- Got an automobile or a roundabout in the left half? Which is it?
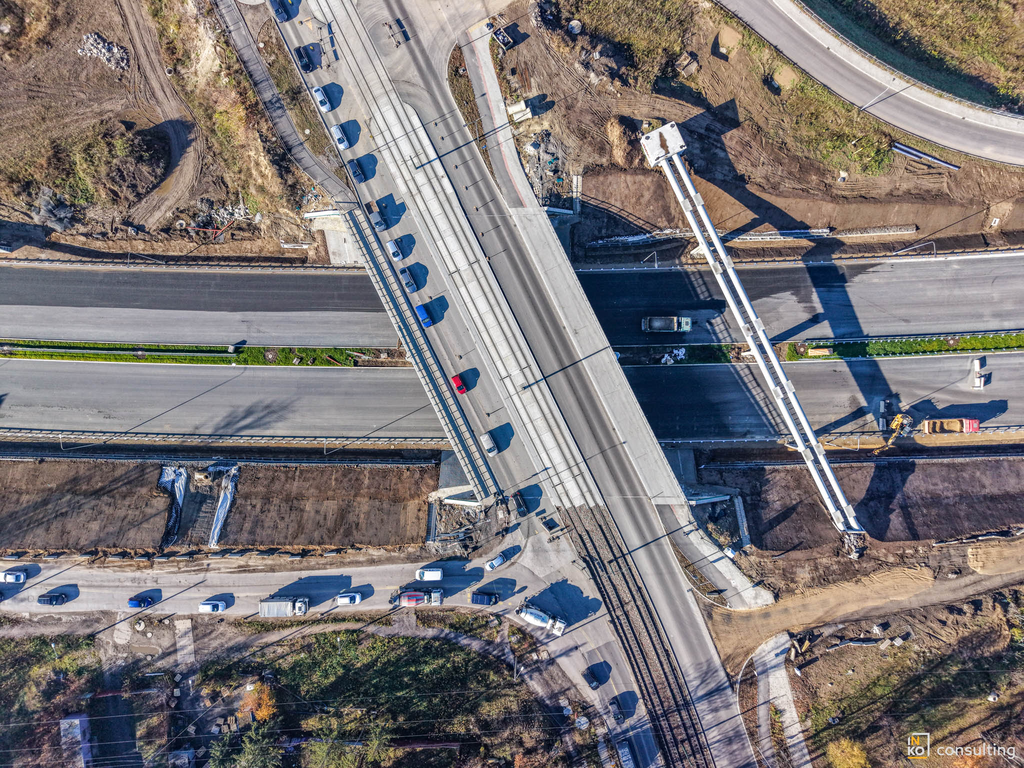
automobile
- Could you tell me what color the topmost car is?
blue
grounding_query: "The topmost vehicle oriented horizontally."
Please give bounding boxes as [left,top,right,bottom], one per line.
[641,315,692,334]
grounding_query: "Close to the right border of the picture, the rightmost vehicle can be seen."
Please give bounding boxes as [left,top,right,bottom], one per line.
[918,416,981,435]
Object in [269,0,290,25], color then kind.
blue car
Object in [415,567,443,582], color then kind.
white vehicle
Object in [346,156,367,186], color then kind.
blue car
